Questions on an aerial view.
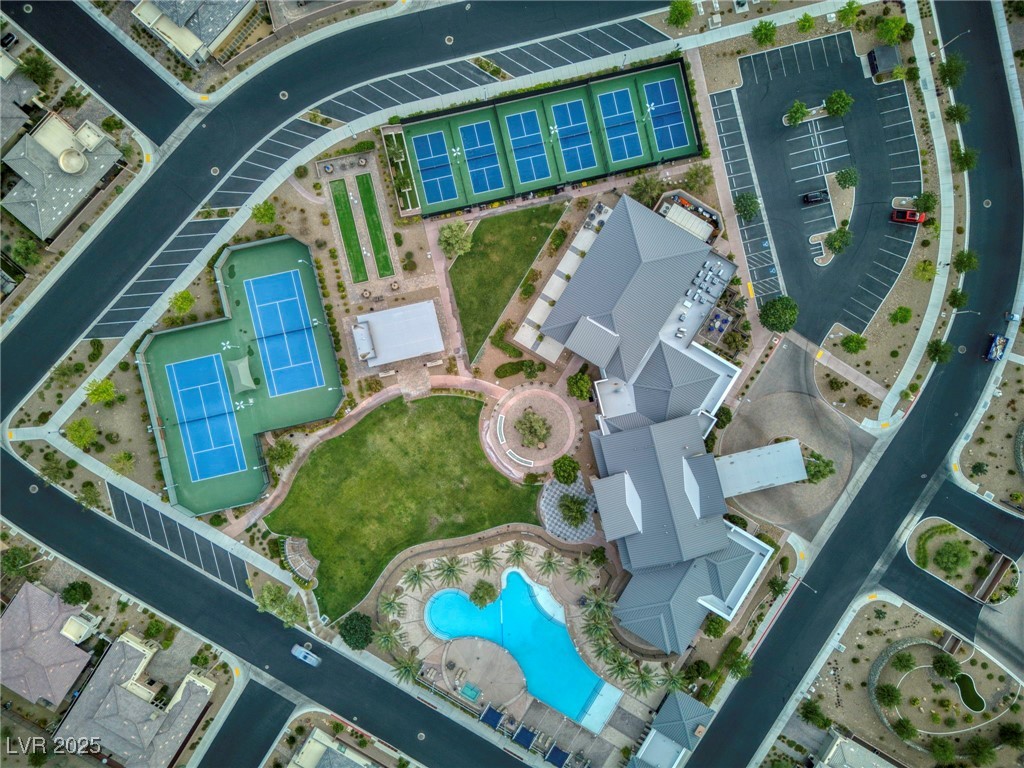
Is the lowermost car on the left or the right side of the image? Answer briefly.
left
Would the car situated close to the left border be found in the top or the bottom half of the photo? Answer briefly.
top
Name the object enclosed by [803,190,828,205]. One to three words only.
car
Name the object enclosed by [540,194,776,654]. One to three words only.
building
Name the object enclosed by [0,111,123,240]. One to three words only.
house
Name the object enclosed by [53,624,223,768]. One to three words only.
house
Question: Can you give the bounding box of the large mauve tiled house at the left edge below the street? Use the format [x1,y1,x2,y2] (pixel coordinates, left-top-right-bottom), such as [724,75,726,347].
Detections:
[0,581,112,713]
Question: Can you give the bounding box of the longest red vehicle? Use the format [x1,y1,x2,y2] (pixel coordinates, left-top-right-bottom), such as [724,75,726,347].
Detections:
[891,210,924,223]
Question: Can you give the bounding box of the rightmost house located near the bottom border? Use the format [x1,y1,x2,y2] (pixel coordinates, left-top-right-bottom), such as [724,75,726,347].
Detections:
[810,722,891,768]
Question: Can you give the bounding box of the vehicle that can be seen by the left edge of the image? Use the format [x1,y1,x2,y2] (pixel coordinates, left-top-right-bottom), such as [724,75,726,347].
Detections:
[0,28,20,52]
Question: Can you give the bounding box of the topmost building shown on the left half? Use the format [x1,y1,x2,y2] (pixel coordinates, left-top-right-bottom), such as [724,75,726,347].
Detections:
[131,0,261,76]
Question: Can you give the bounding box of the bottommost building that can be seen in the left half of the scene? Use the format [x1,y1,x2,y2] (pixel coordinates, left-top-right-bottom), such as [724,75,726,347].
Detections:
[295,720,376,768]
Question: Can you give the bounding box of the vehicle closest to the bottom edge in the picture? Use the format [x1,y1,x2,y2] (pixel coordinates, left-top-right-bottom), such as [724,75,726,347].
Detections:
[292,645,320,667]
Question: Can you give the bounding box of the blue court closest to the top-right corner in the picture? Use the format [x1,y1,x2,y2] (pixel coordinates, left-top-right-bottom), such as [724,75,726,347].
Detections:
[635,64,697,157]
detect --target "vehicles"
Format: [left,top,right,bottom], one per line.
[803,190,828,205]
[1001,314,1020,321]
[292,645,320,667]
[0,28,20,52]
[891,210,924,223]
